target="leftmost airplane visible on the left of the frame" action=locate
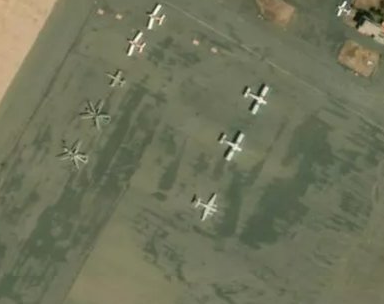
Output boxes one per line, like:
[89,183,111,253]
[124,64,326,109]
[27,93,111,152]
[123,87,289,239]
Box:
[106,70,126,87]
